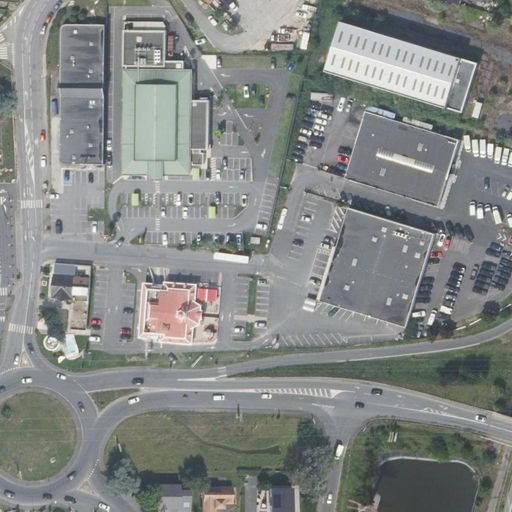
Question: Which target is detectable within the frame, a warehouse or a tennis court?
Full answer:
The one in the frame is a warehouse.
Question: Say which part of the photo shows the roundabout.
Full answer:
The roundabout is in the bottom left part of the image.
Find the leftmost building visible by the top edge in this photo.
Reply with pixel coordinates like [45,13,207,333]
[58,24,105,168]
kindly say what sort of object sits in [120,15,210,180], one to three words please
building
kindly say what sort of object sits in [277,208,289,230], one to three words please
vehicle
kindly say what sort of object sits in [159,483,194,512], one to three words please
house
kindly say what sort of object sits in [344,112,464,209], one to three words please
building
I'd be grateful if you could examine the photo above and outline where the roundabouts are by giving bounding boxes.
[0,368,100,504]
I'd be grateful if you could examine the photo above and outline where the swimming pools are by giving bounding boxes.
[66,334,78,360]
